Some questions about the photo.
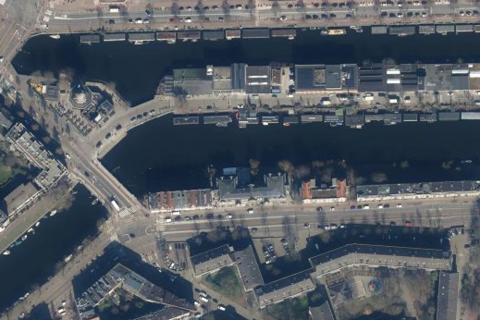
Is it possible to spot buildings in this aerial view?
Yes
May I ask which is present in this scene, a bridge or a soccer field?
bridge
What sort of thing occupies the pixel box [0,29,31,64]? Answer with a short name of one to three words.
bridge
